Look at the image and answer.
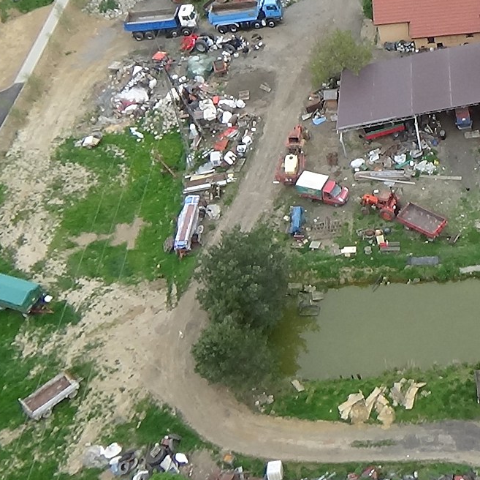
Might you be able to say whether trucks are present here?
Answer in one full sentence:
Yes, a truck is visible in the scene.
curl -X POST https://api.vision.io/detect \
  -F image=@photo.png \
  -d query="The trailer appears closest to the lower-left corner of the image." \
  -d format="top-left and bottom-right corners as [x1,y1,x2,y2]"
[18,369,89,421]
